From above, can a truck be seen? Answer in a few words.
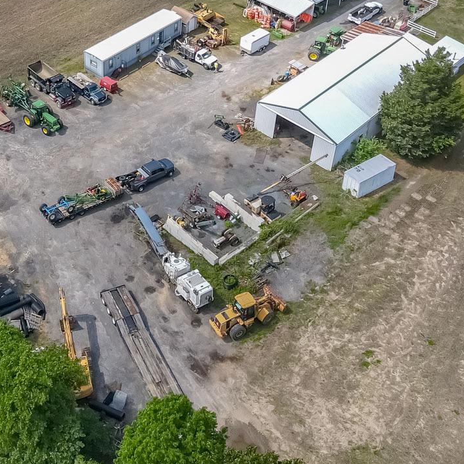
Yes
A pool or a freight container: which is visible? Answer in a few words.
freight container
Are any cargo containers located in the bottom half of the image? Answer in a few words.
No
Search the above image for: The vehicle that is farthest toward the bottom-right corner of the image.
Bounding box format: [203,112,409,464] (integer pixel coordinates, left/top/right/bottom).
[208,294,290,347]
